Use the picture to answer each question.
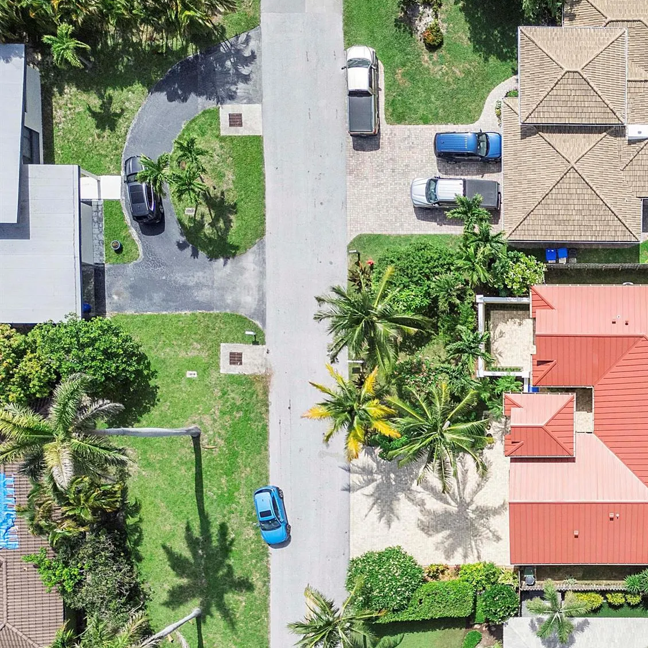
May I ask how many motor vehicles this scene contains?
5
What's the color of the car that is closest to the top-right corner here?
blue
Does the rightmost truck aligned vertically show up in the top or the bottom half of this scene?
top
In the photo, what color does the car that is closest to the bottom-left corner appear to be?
blue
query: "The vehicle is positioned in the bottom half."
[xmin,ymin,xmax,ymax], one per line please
[252,482,294,547]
